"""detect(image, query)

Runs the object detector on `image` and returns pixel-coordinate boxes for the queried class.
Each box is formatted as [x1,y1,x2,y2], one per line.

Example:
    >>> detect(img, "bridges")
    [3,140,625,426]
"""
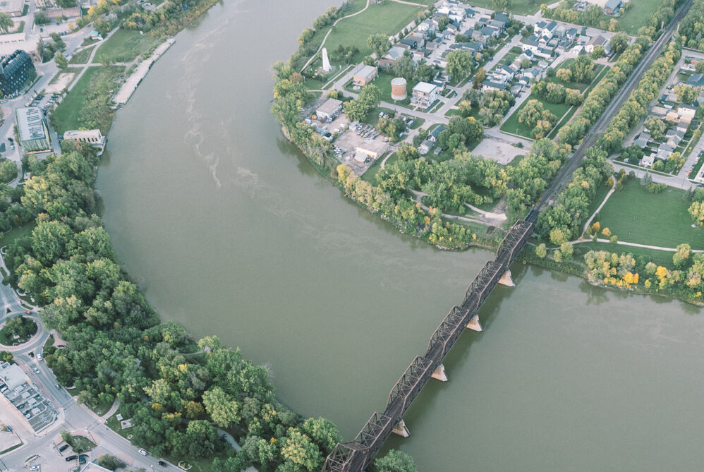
[322,218,540,472]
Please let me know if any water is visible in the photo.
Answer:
Yes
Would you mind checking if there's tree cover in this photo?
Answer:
Yes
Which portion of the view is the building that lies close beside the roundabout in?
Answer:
bottom left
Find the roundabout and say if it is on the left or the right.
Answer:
left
